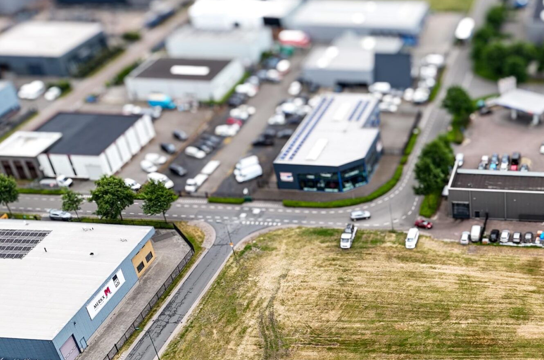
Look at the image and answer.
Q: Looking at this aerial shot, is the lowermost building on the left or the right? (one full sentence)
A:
It is on the left.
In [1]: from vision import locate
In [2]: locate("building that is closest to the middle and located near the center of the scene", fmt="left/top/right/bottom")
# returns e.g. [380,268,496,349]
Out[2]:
[273,93,382,192]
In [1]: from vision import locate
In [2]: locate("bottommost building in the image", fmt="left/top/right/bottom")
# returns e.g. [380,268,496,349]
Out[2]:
[0,220,164,360]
